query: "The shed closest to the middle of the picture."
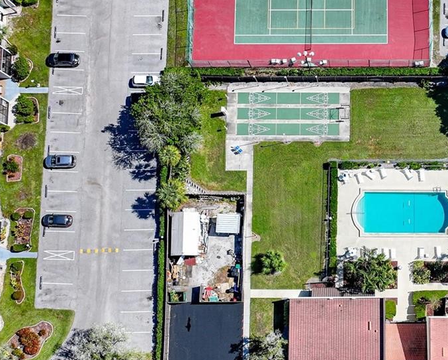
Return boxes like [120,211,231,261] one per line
[215,213,240,233]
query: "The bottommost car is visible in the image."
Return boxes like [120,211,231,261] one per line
[39,213,72,228]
